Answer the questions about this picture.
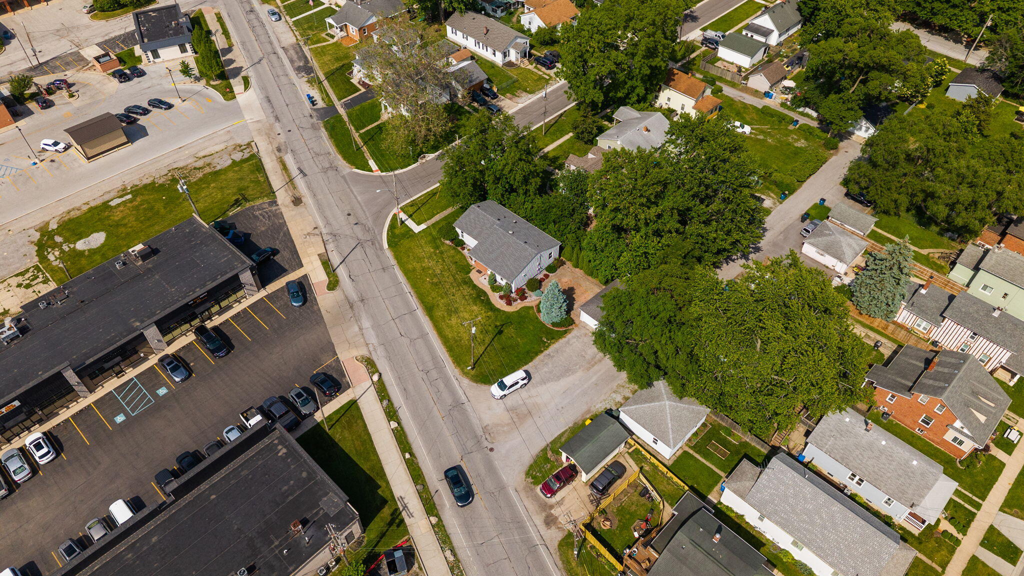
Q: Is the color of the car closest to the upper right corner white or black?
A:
black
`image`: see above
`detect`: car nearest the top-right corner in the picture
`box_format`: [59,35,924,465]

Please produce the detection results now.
[843,188,873,209]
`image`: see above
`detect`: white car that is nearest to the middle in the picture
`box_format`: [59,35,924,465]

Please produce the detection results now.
[491,369,530,400]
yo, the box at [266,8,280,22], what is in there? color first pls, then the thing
gray car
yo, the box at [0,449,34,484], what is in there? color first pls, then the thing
gray car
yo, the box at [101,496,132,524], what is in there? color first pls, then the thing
white vehicle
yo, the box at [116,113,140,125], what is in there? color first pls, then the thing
black vehicle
